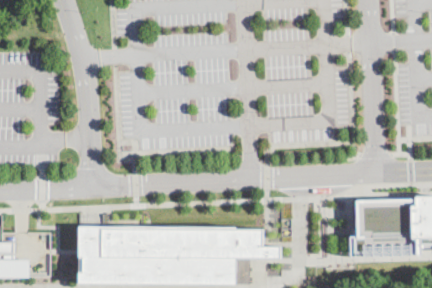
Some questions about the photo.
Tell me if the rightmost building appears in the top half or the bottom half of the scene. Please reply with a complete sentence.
Seen from above, the rightmost building lies in the bottom half of the view.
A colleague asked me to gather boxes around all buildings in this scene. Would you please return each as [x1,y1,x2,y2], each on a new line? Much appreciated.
[77,226,282,286]
[349,196,432,257]
[0,237,30,280]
